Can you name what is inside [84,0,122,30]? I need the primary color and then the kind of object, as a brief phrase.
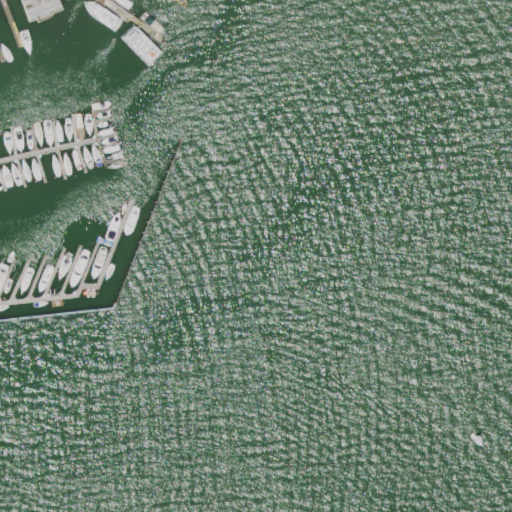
white boat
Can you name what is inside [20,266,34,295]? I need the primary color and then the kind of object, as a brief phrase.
white boat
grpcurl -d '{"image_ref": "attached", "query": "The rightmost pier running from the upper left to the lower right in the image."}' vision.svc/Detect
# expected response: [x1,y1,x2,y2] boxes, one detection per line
[94,0,160,40]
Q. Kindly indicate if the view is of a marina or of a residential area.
marina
